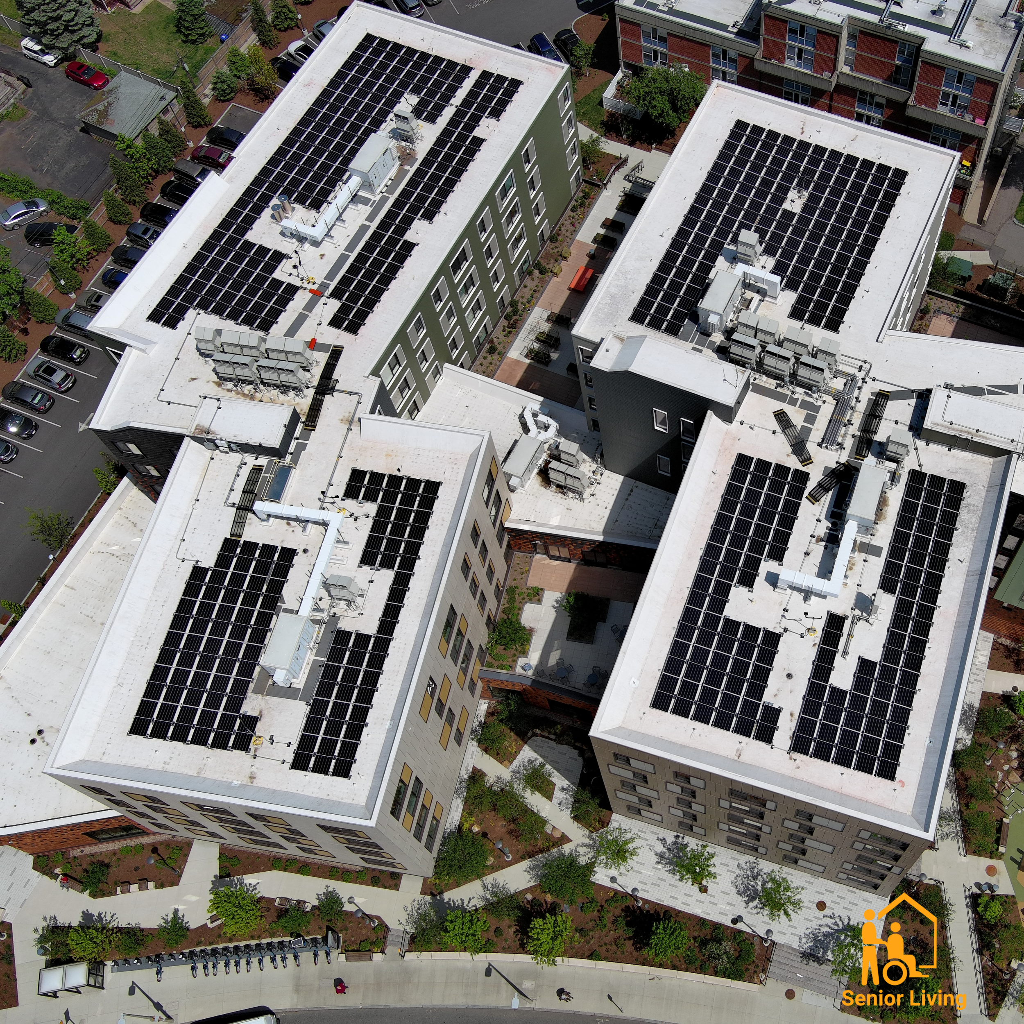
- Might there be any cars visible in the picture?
Yes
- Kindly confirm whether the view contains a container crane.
No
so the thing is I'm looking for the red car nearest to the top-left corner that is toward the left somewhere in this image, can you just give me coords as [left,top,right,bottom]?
[61,63,110,94]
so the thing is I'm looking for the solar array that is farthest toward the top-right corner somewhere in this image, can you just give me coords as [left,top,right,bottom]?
[629,119,911,338]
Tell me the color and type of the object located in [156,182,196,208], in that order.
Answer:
black car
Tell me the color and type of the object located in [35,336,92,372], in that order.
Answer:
black car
